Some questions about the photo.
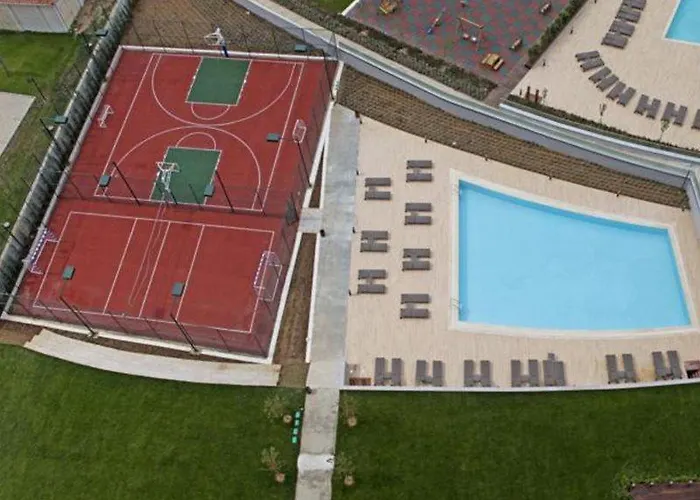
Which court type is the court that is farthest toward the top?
basketball court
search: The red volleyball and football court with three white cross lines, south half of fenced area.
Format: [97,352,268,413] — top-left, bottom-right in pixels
[8,198,296,352]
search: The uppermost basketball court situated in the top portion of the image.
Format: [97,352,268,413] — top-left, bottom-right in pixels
[58,51,335,220]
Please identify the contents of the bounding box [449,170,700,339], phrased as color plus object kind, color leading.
blue swimming pool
